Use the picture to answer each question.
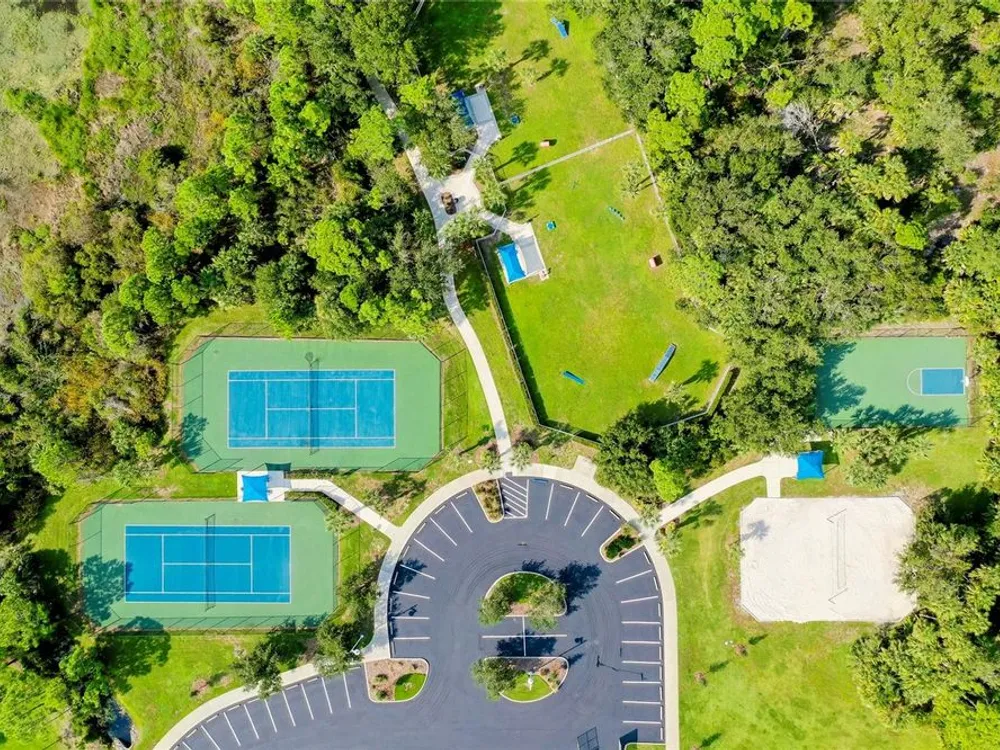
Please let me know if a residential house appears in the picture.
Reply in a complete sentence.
No, the frame has no residential house in it.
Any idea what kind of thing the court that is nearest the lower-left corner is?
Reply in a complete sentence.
From above, the court that is nearest the lower-left corner can be identified as a tennis court.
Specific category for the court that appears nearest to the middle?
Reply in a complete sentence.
The court that appears nearest to the middle can be classified as a tennis court.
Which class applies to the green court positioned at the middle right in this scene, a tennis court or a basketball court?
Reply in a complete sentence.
Looking closely, the green court positioned at the middle right is a basketball court.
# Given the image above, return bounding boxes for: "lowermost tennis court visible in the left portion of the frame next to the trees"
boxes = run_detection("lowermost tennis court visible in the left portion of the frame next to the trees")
[81,501,335,629]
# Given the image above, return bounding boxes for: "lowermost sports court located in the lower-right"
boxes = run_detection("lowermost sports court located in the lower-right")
[739,495,915,624]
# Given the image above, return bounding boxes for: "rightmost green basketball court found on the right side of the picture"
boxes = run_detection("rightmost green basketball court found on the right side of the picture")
[806,337,968,427]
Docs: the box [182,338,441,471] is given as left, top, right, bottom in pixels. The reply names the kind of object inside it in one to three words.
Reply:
tennis court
